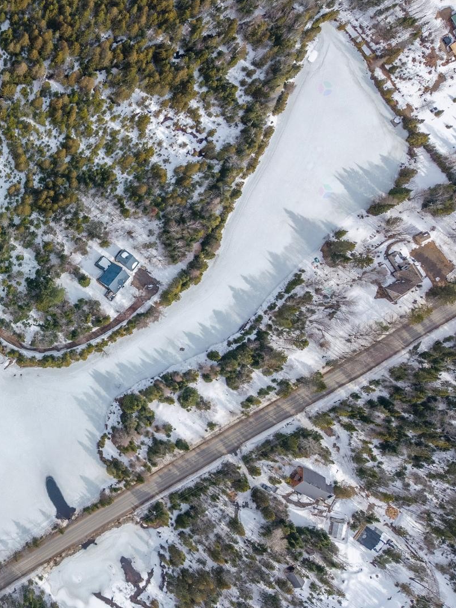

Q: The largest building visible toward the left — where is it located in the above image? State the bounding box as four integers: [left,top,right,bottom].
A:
[95,255,129,298]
